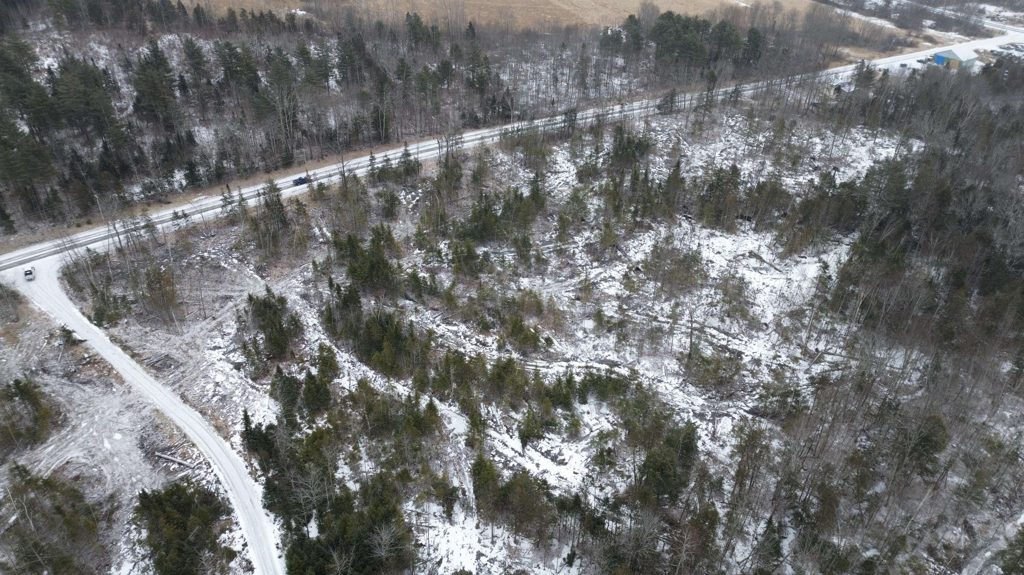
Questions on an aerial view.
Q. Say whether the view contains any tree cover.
Yes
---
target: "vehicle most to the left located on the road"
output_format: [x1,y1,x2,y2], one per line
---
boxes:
[21,265,35,279]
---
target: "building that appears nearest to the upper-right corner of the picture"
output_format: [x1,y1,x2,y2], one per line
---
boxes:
[934,46,983,69]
